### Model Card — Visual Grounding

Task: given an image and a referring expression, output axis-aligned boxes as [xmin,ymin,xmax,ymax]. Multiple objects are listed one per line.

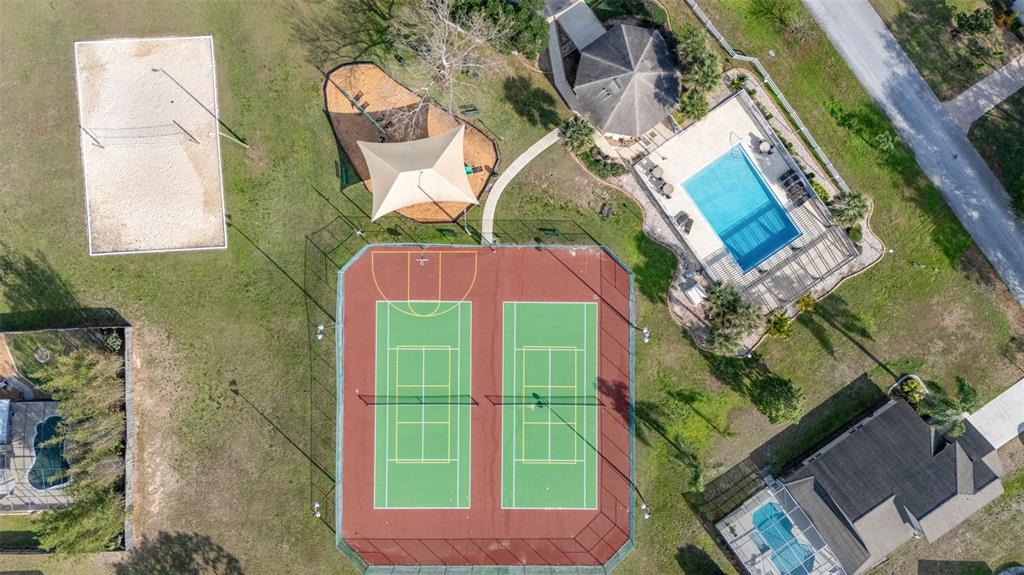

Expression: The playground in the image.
[323,60,499,223]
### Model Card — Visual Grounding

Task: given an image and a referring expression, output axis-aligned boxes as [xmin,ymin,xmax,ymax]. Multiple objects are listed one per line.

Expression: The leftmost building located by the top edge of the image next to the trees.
[573,24,681,136]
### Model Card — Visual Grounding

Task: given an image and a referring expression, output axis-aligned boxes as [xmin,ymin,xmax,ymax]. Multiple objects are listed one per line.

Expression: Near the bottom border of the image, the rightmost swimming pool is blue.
[752,501,817,575]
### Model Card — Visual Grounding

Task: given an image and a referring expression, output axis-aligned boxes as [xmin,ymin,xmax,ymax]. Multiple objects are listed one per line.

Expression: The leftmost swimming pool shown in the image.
[27,414,73,492]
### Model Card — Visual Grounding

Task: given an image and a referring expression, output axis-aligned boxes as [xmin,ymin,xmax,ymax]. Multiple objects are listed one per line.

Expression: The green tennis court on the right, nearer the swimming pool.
[502,302,598,509]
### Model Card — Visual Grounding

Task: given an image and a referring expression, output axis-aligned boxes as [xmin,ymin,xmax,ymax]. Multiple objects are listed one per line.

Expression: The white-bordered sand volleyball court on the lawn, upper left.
[74,35,227,255]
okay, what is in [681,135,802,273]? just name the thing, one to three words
swimming pool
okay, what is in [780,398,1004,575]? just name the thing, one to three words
house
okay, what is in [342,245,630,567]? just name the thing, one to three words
sports court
